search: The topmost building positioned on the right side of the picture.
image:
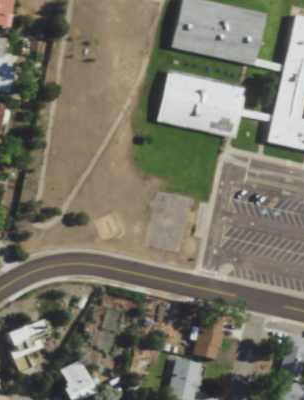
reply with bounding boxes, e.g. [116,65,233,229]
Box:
[172,0,268,66]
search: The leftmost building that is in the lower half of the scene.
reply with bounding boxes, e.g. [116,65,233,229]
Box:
[8,320,48,372]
